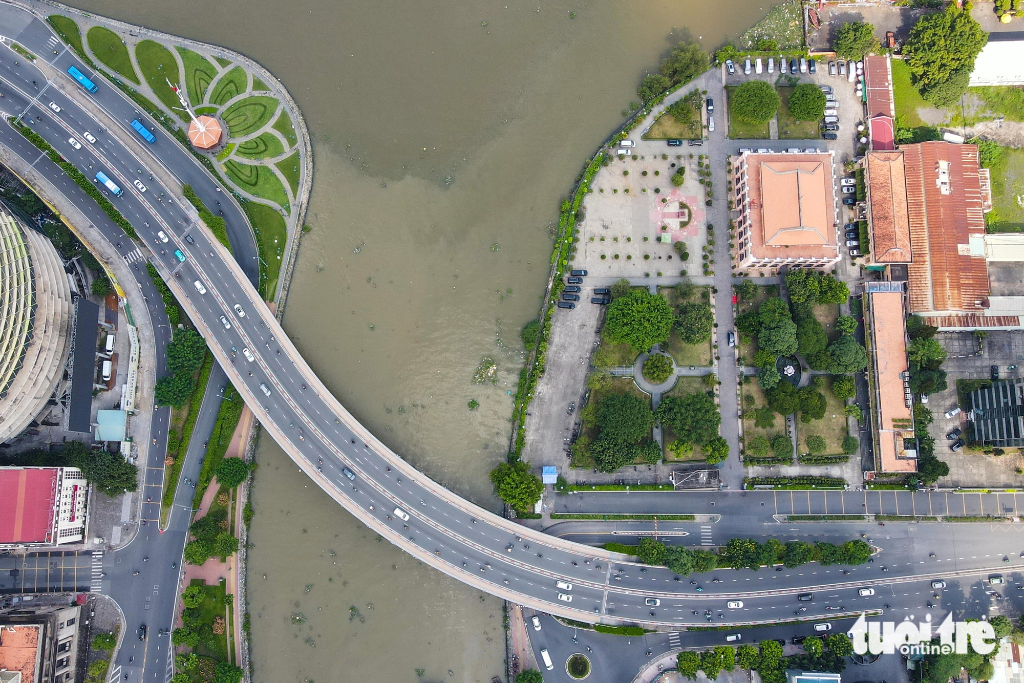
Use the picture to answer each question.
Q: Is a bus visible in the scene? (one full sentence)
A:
Yes, there's a bus down there.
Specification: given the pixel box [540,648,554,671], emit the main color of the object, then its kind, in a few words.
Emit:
white vehicle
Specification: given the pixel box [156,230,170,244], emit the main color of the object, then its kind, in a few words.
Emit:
white car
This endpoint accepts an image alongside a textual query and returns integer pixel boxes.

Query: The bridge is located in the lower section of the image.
[146,218,614,629]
